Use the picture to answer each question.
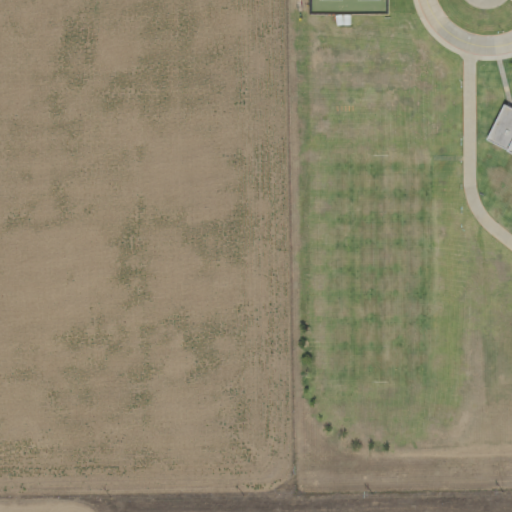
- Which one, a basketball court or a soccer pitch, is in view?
soccer pitch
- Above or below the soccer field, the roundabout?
above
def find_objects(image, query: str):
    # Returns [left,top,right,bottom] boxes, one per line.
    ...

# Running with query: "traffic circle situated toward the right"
[412,0,512,68]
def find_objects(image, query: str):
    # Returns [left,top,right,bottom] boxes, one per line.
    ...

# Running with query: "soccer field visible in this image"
[312,155,448,381]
